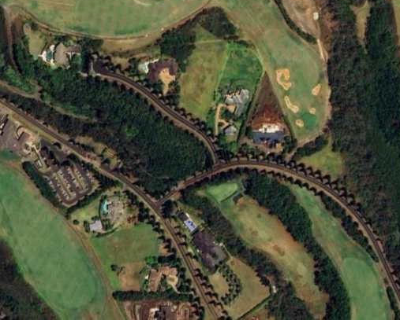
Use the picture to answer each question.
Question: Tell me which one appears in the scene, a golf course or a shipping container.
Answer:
golf course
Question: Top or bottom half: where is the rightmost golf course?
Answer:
bottom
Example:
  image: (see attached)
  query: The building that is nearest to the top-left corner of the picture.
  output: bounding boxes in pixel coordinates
[50,43,81,68]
